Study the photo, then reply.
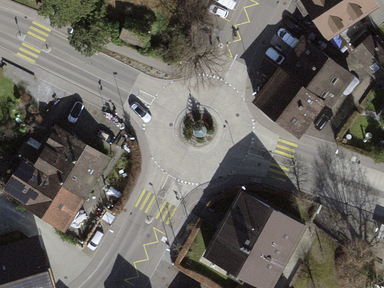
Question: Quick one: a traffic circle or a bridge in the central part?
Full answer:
You can see a traffic circle in the central part.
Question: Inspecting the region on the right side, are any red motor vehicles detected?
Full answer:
No, no red motor vehicle can be made out on the right side.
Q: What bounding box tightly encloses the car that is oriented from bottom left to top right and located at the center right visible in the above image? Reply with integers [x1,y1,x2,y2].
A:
[314,106,332,130]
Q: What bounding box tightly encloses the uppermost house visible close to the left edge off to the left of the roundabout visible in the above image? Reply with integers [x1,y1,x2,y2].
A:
[4,124,110,230]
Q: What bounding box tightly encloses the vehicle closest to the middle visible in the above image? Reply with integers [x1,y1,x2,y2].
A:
[131,99,151,120]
